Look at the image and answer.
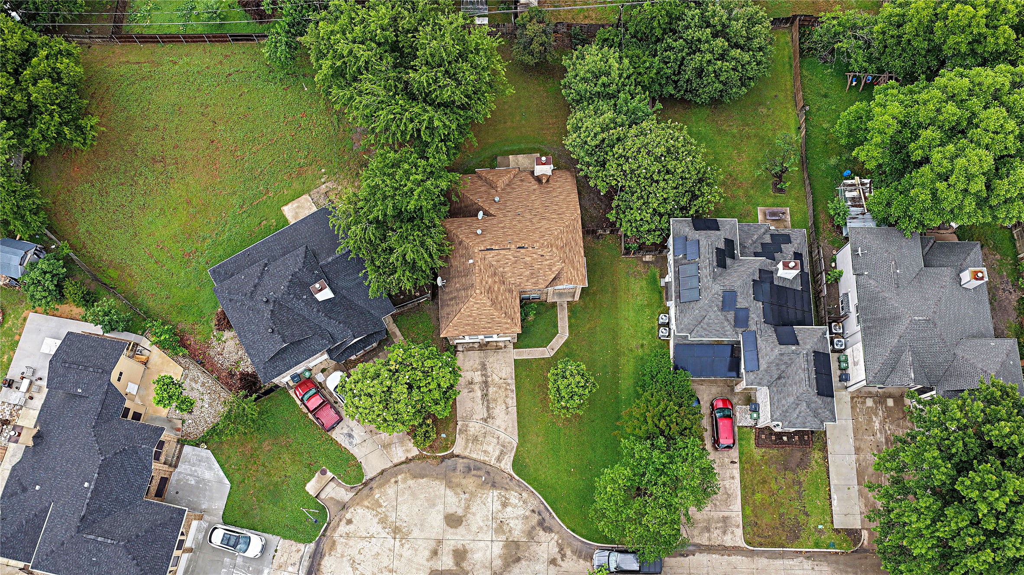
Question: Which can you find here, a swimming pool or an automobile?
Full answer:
Looking from above, you can make out an automobile.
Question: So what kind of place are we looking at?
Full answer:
This image shows a residential area.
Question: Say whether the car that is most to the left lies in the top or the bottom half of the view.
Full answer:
The car that is most to the left is in the bottom half of the image.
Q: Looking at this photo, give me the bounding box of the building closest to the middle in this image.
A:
[438,156,588,345]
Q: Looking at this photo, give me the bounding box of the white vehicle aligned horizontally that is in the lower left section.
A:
[202,521,270,560]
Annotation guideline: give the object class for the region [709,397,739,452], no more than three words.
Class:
car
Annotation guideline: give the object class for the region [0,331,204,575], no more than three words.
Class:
house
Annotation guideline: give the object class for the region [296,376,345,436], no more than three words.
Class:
truck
